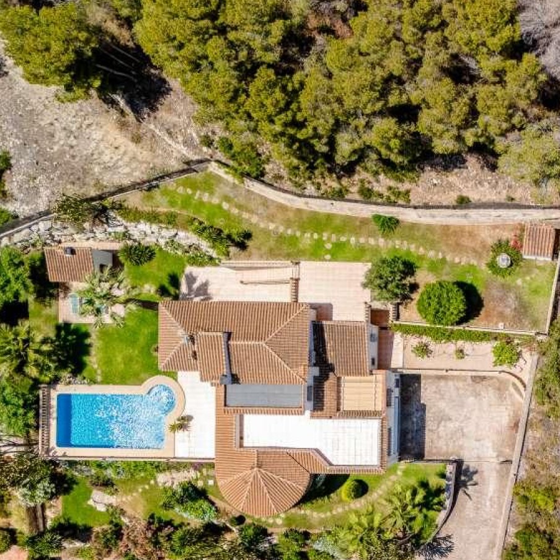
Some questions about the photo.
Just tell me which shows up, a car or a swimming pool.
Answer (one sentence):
The one in the frame is a swimming pool.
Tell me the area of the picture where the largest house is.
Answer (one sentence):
The largest house sits in the bottom section of the image.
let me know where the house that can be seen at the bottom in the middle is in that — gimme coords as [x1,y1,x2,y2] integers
[157,301,399,517]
